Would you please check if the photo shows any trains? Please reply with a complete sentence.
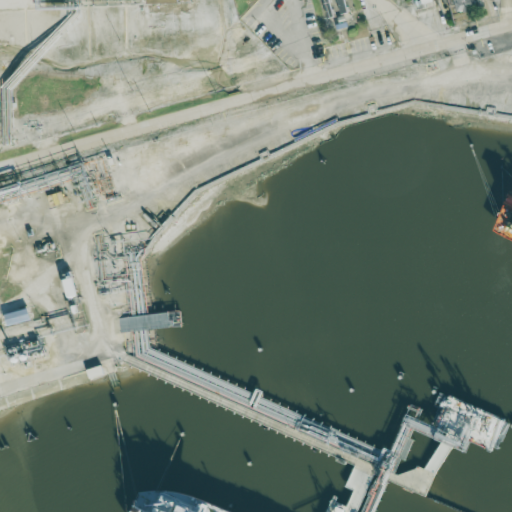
No, no train is visible in the scene.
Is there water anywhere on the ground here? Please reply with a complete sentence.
Yes, the picture does contain water.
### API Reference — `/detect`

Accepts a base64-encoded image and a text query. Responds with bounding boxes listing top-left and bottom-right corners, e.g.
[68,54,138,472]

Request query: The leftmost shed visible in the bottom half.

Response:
[3,306,30,326]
